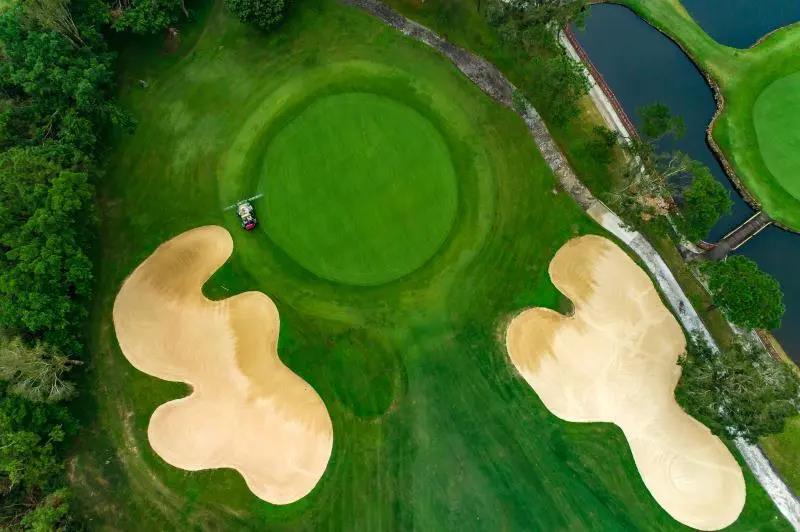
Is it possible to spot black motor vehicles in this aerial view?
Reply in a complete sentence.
No, the frame has no black motor vehicle in it.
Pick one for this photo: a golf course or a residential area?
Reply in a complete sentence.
This image shows a golf course.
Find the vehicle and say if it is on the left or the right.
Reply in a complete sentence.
The vehicle appears in the left half of the scene.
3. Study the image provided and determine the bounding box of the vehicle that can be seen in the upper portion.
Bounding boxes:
[222,195,260,227]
